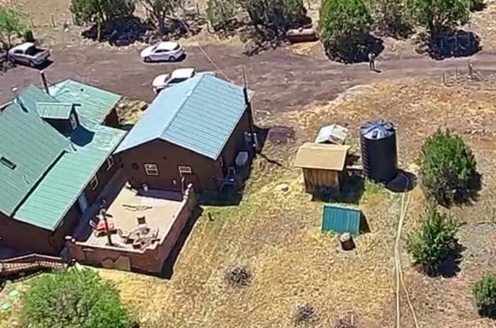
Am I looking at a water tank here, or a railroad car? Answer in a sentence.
It is a water tank that can be seen here.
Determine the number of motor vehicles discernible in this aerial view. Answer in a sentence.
I count 3 motor vehicles.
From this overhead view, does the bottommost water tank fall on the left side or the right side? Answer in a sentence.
You can find the bottommost water tank on the right side of the picture.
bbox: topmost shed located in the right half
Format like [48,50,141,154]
[295,141,350,189]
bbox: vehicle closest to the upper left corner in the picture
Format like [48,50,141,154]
[5,45,46,68]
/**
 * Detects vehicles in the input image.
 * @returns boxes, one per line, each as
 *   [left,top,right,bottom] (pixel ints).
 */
[5,45,46,68]
[138,40,181,61]
[156,64,214,92]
